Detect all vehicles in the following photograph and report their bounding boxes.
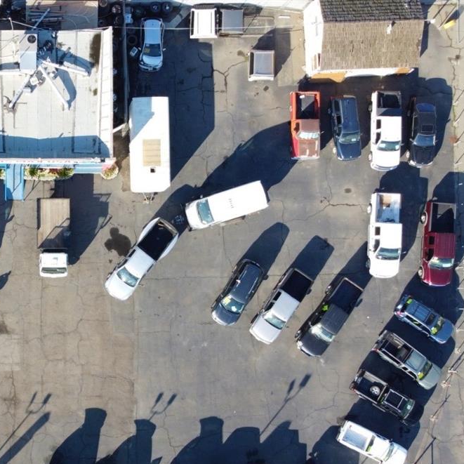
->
[107,217,180,301]
[365,191,404,279]
[367,90,405,173]
[185,179,270,229]
[369,328,438,389]
[393,297,449,342]
[288,91,324,162]
[250,265,315,345]
[419,201,459,286]
[334,420,403,464]
[299,276,367,357]
[404,99,440,169]
[328,96,363,160]
[348,368,421,427]
[212,258,262,324]
[36,199,72,279]
[138,20,166,73]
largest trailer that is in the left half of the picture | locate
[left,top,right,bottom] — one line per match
[123,98,170,209]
